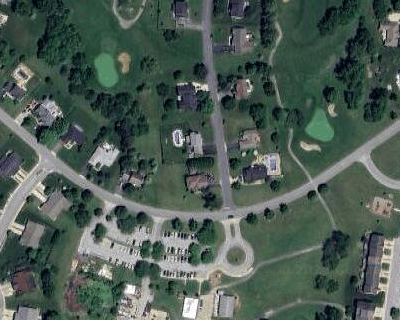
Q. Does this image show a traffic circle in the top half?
No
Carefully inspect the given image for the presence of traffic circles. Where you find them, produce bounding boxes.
[219,218,254,273]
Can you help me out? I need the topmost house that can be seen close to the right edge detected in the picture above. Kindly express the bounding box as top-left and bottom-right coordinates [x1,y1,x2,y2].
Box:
[384,14,400,46]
